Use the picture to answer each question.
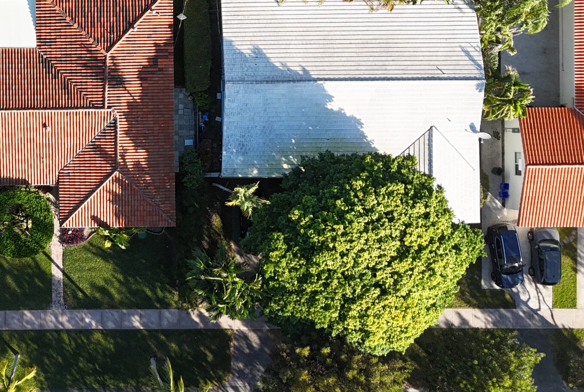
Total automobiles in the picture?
2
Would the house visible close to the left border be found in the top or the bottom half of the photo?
top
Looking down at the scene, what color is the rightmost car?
black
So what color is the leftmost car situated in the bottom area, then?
black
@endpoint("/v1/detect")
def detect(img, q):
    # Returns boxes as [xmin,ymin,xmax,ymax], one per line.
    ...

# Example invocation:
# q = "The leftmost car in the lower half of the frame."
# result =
[492,223,530,286]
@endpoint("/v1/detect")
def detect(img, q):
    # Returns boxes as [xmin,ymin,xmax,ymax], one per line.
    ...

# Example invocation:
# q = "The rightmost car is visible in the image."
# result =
[531,228,566,284]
